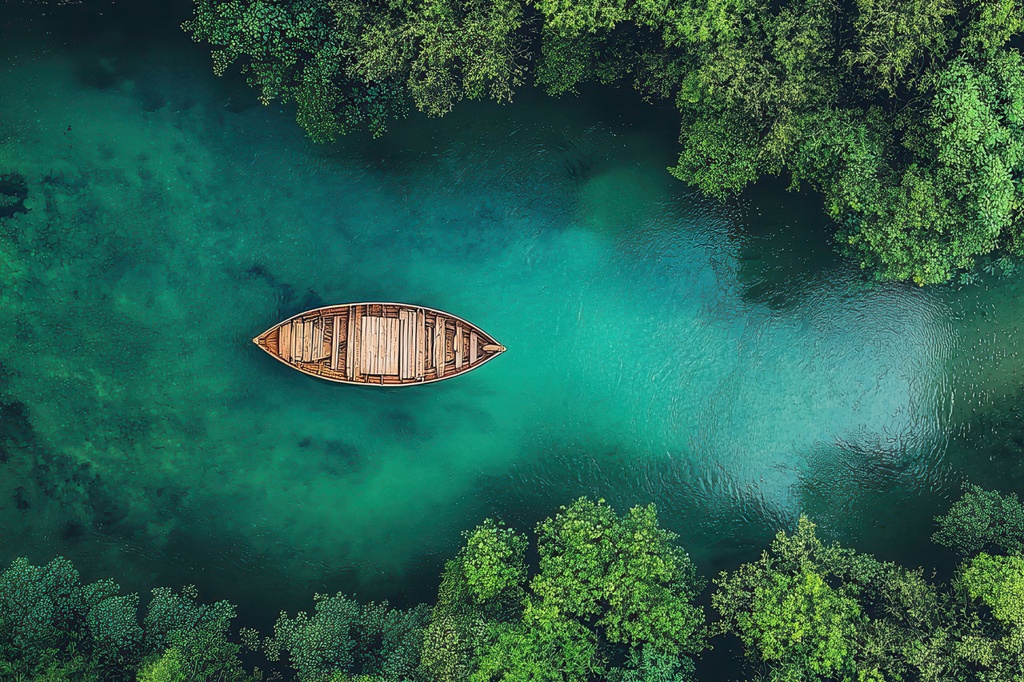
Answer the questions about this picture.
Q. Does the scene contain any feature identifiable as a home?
No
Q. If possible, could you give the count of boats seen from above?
1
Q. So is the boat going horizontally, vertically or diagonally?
horizontally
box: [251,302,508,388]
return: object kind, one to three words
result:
boat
